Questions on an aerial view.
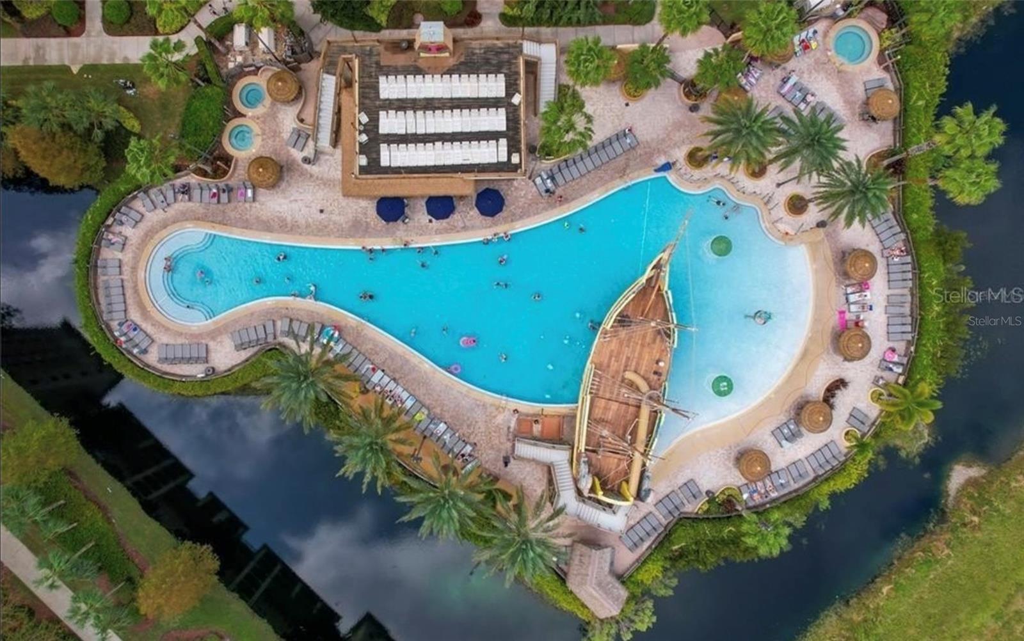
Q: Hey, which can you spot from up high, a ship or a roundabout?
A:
ship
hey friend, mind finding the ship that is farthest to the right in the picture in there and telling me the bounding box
[571,214,696,515]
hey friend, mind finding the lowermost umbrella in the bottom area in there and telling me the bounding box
[734,445,770,482]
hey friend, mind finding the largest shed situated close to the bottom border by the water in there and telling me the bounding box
[565,540,629,620]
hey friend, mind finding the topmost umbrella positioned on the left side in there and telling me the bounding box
[266,71,300,105]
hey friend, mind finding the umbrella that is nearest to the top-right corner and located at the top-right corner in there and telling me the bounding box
[864,88,900,124]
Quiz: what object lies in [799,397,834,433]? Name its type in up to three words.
umbrella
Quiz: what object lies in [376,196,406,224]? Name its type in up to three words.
umbrella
